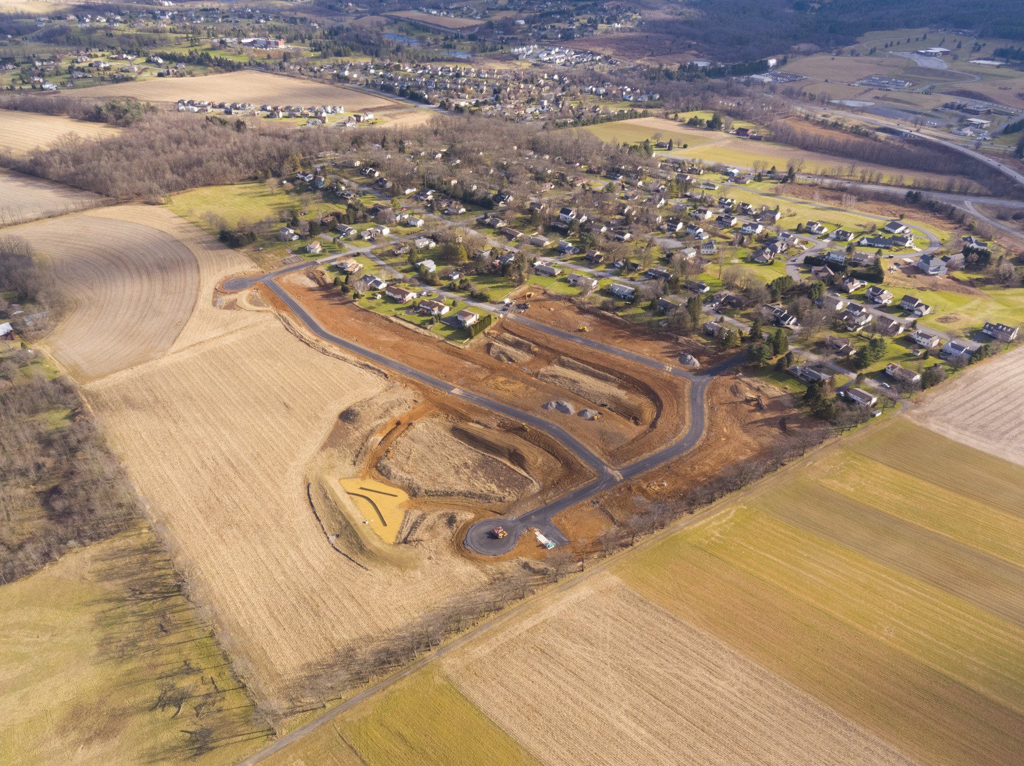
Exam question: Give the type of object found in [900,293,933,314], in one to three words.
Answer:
house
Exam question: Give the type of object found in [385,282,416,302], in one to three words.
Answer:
house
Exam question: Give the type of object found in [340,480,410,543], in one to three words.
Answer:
pond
